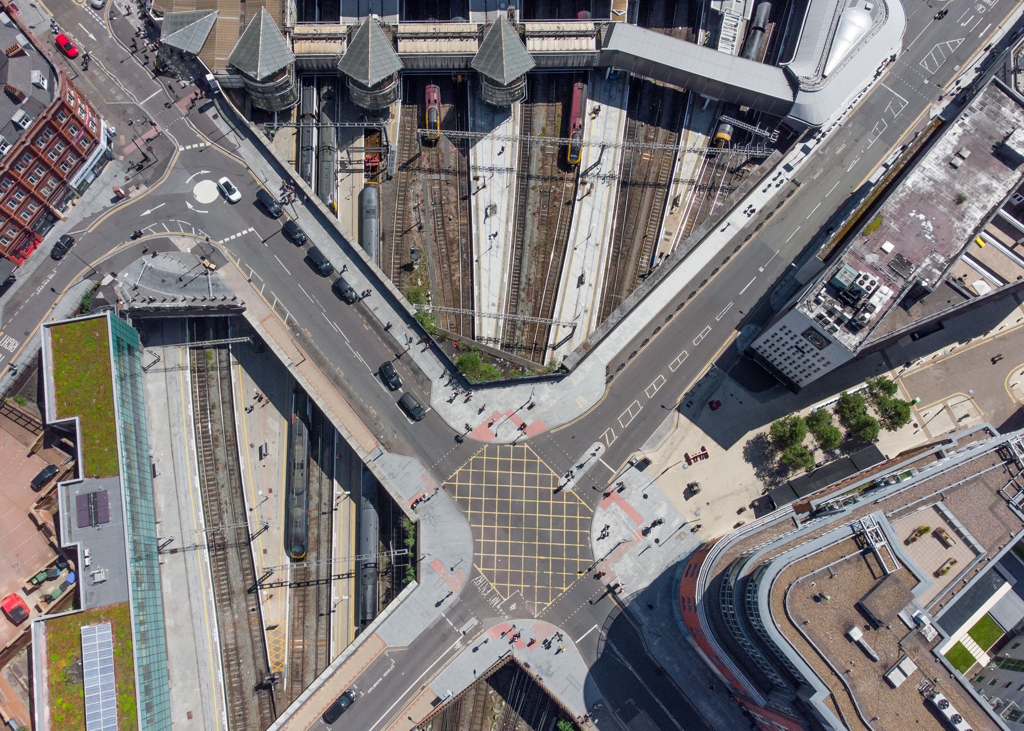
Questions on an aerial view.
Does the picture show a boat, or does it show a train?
train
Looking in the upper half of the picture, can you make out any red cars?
Yes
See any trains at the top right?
Yes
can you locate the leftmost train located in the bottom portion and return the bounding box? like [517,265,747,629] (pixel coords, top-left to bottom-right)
[289,376,316,562]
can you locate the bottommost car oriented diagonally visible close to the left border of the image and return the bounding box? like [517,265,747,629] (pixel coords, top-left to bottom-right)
[23,460,60,495]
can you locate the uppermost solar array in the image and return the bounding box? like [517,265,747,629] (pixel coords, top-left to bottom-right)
[75,489,110,528]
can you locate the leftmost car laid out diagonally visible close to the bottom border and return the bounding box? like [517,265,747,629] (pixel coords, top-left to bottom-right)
[319,687,359,727]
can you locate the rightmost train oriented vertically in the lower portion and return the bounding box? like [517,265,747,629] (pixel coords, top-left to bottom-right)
[359,459,383,625]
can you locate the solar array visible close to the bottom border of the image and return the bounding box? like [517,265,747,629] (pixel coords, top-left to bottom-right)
[81,621,118,731]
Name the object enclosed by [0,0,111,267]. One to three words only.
building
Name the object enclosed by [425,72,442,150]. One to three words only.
rail car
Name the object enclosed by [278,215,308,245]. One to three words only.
car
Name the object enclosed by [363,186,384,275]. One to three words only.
train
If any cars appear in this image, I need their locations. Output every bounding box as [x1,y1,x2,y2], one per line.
[45,230,76,259]
[397,388,426,423]
[53,31,77,55]
[329,273,359,304]
[304,243,334,275]
[215,173,239,201]
[253,185,283,215]
[319,687,359,727]
[278,215,308,245]
[375,357,404,391]
[23,460,60,495]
